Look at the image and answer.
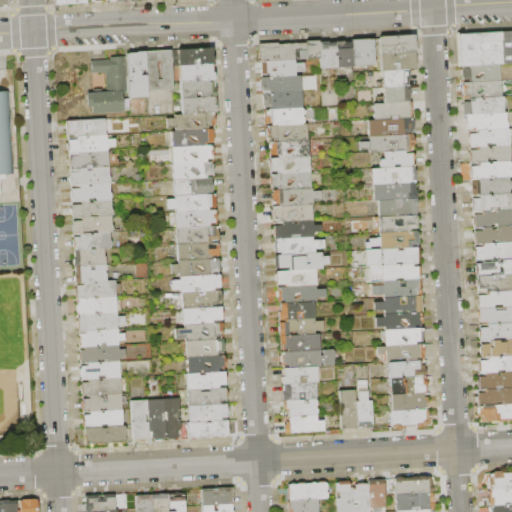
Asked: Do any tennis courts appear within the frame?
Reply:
No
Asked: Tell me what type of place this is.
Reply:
residential area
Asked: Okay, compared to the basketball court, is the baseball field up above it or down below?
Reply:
below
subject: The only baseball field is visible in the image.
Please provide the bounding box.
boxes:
[0,274,29,436]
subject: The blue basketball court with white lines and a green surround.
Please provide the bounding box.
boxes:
[0,200,25,270]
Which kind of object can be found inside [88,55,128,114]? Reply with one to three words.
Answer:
building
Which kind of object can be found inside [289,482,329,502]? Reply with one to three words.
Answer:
house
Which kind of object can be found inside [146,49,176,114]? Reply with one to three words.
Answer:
house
